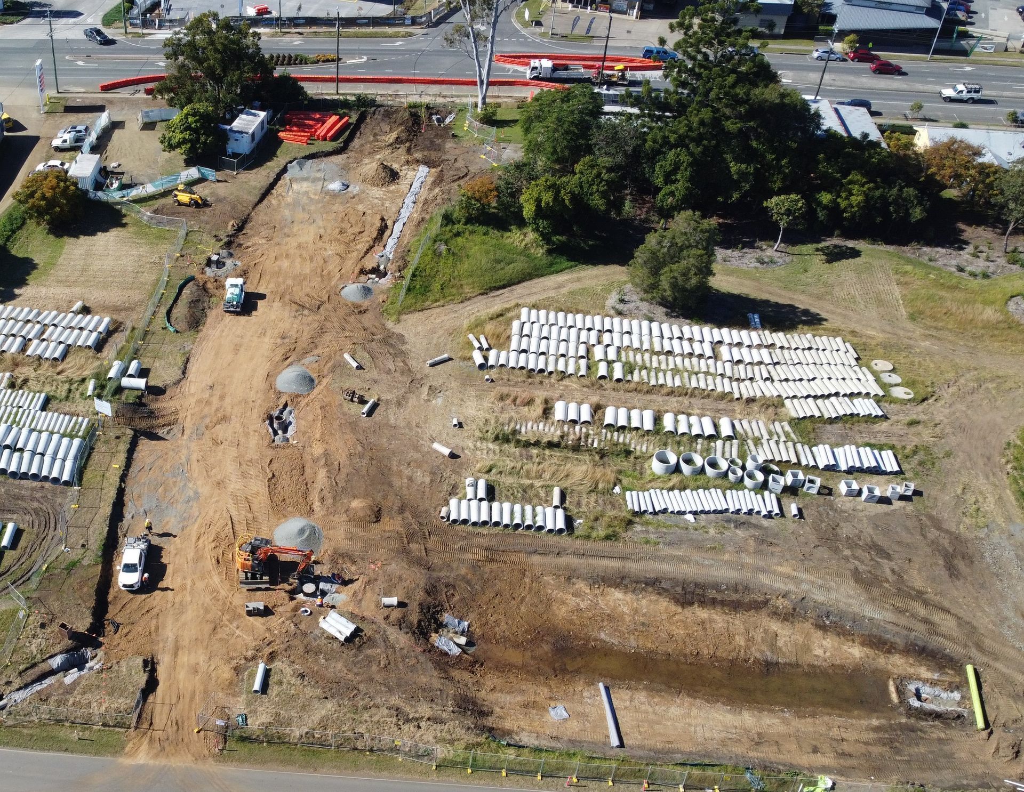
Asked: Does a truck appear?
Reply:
Yes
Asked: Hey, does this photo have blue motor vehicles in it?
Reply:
Yes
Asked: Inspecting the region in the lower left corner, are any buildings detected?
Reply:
No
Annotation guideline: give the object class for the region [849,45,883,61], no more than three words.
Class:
car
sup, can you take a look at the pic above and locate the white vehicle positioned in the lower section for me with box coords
[113,521,149,585]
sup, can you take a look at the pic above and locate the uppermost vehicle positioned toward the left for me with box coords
[83,30,109,44]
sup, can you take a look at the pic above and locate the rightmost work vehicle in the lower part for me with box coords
[237,540,314,597]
